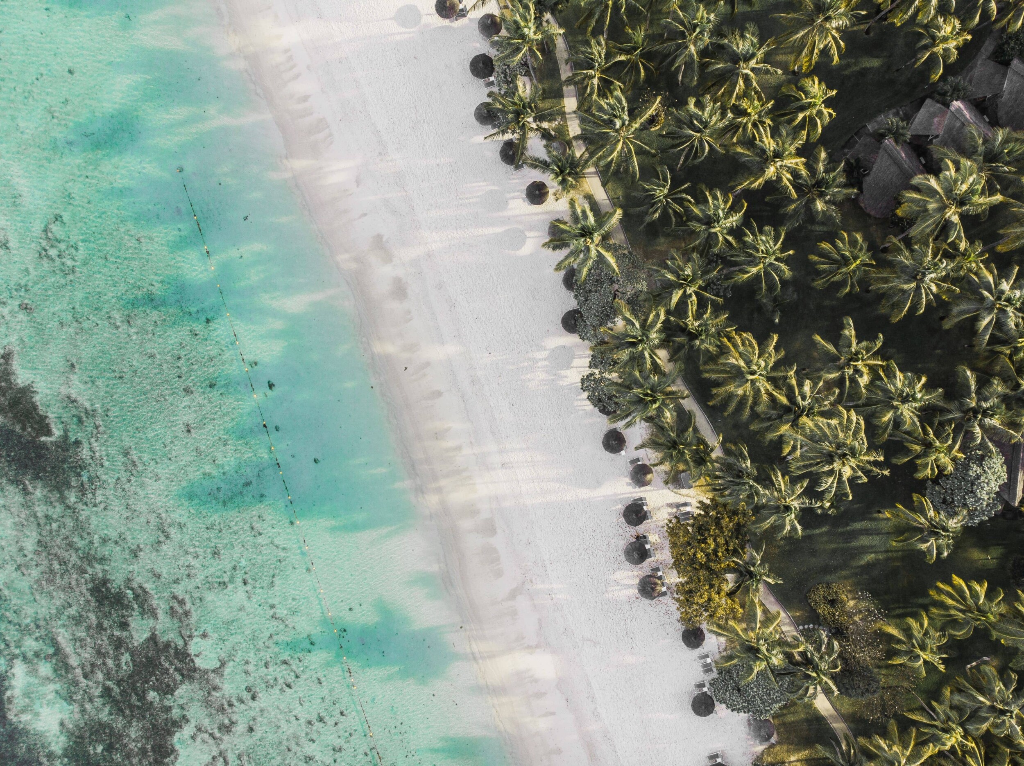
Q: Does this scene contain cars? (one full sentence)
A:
No, the picture doesn't show any car.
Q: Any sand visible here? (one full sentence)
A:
Yes, some sand is visible.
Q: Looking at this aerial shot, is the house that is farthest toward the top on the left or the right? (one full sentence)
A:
It is on the right.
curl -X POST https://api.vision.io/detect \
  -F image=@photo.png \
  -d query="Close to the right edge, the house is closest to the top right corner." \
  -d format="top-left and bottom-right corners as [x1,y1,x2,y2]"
[961,59,1024,133]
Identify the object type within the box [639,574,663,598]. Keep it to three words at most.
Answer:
umbrella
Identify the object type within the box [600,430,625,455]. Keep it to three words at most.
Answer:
umbrella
